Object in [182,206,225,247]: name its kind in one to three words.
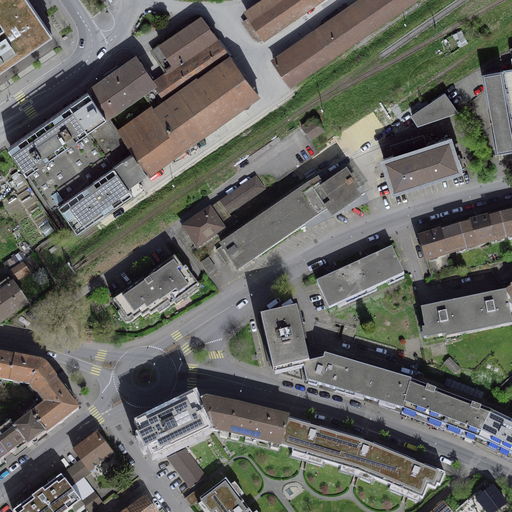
house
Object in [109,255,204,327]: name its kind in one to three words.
building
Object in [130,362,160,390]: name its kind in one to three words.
roundabout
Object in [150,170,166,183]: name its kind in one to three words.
vehicle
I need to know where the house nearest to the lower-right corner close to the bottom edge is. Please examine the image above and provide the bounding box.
[454,484,511,512]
